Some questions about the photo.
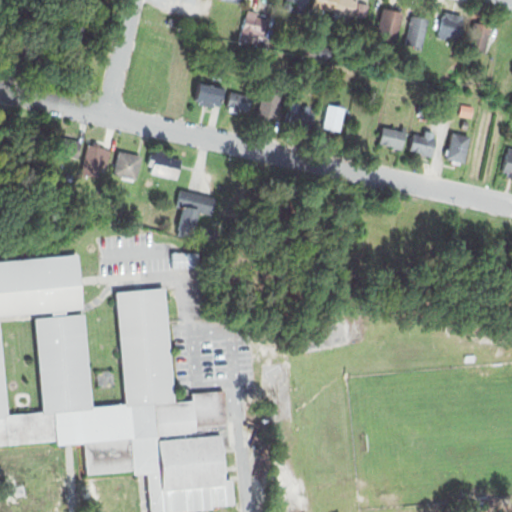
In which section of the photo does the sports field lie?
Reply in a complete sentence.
The sports field appears toward the bottom right of the photo.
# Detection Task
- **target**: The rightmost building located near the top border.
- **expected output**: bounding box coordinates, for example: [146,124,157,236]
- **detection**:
[470,24,492,54]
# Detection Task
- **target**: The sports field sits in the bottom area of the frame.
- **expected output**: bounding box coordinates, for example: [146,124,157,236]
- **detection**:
[349,366,512,492]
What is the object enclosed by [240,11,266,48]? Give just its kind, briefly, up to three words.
house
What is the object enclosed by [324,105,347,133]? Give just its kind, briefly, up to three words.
building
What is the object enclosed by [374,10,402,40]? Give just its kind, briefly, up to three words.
house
